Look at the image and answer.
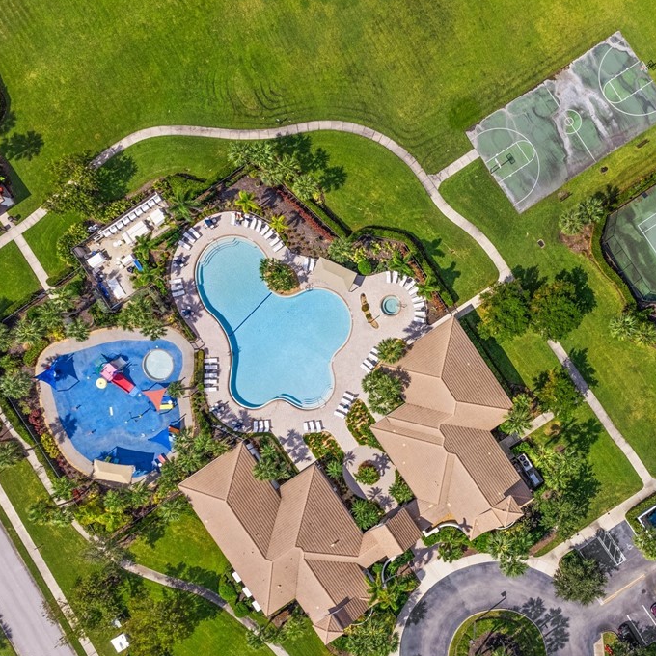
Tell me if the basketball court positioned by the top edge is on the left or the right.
right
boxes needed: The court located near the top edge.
[467,31,656,213]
